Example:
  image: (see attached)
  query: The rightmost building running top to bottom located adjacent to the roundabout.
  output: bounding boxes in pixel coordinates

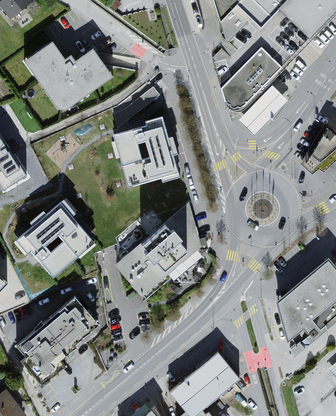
[166,202,202,274]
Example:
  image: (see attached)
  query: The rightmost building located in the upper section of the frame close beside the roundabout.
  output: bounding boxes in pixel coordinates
[302,128,336,174]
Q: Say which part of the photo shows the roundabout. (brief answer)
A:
right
